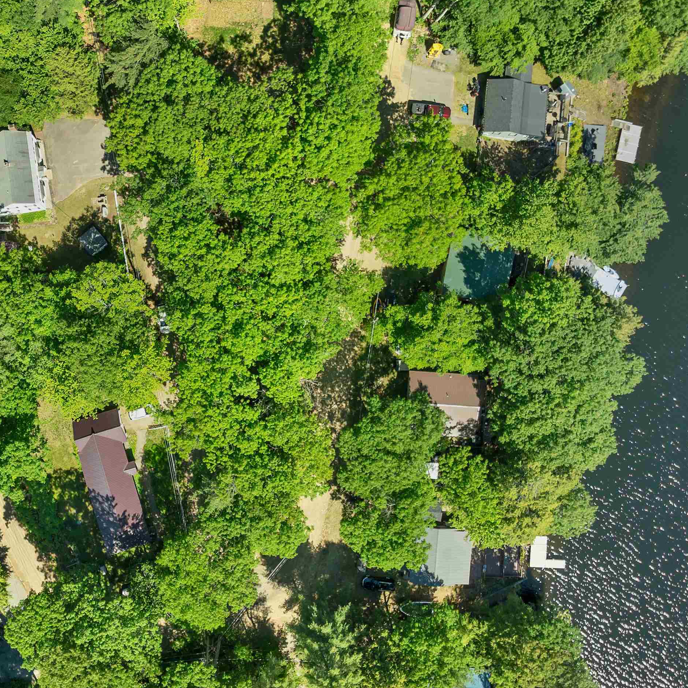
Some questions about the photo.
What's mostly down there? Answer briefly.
trees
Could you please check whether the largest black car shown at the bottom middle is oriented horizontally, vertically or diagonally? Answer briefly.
horizontally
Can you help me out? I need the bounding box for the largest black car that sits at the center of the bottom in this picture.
[359,572,396,592]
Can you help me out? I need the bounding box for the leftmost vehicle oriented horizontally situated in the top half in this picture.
[409,101,451,121]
